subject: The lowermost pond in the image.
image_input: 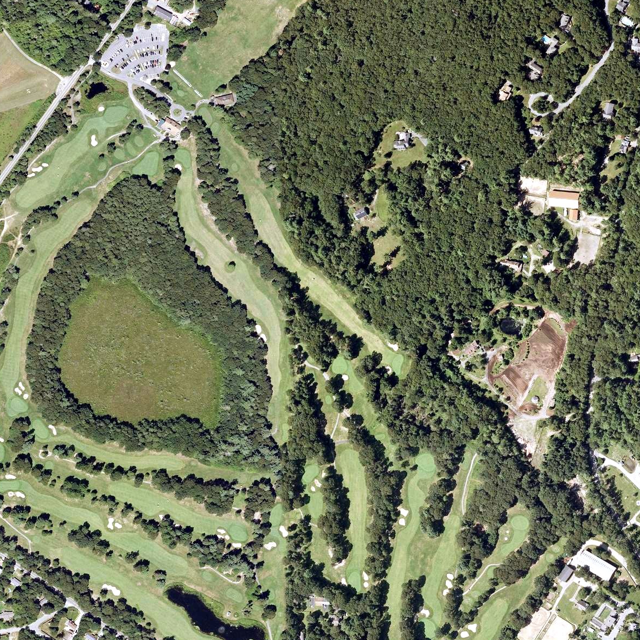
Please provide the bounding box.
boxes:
[167,586,266,640]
